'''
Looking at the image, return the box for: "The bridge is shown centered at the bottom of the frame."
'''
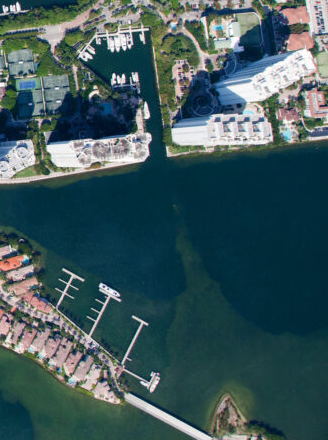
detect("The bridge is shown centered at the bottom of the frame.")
[121,393,214,440]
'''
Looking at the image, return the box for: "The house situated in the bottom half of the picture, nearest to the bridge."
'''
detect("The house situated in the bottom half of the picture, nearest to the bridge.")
[88,379,122,405]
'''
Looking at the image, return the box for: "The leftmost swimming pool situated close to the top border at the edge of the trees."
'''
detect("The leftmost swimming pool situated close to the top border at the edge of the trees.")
[210,18,227,40]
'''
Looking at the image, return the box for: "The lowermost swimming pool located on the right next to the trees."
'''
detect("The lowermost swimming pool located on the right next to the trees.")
[281,123,295,141]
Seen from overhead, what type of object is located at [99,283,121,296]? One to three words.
boat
